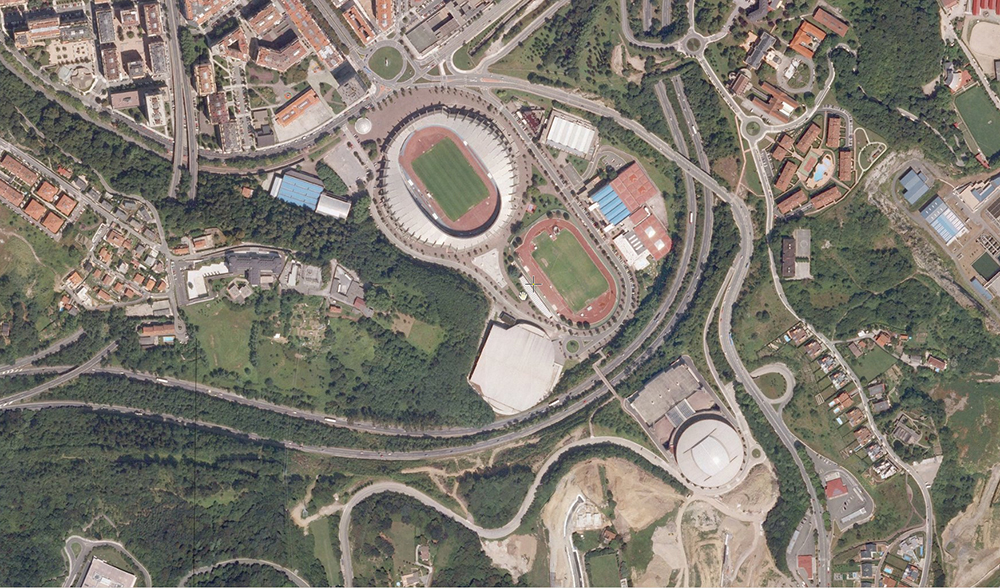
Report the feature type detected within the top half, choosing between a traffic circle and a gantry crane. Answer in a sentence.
The one visible within the top half is a traffic circle.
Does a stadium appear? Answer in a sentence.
Yes, I can see a stadium in this picture.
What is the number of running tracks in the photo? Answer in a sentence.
The number of running tracks here is 2.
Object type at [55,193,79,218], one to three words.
building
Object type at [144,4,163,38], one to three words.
building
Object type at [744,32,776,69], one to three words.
house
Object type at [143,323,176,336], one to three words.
house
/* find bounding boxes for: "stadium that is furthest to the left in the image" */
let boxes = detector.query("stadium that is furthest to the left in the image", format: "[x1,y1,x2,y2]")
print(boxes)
[382,107,519,252]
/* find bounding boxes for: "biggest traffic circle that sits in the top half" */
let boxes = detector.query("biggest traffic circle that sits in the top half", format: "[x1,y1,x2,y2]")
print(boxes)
[360,35,413,87]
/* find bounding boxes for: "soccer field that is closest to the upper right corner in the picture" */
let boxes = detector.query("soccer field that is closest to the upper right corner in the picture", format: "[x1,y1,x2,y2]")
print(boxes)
[954,80,1000,159]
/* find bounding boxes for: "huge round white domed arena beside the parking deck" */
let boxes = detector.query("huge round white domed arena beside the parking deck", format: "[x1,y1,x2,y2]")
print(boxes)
[676,419,744,487]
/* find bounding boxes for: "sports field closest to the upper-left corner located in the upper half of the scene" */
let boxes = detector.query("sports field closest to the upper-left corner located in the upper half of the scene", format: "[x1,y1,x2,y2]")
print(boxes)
[411,138,489,223]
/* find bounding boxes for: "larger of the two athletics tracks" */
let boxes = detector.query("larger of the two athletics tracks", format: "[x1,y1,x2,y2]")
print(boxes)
[515,215,621,326]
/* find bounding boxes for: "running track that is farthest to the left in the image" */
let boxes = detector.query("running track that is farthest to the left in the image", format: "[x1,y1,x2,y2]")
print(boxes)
[402,127,499,236]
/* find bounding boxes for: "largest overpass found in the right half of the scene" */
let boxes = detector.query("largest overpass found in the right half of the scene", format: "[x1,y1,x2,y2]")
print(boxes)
[629,120,744,211]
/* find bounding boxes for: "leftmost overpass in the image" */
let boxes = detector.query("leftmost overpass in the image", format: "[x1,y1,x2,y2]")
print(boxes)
[0,336,123,406]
